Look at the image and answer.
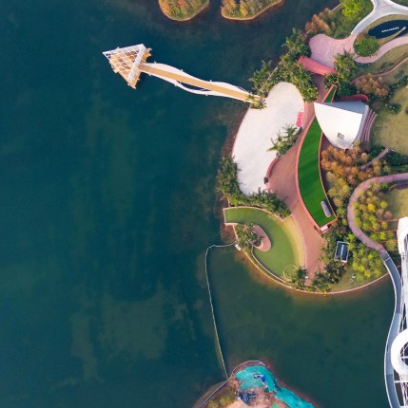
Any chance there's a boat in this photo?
No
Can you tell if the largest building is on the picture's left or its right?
right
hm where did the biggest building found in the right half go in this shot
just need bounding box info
[313,99,366,149]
